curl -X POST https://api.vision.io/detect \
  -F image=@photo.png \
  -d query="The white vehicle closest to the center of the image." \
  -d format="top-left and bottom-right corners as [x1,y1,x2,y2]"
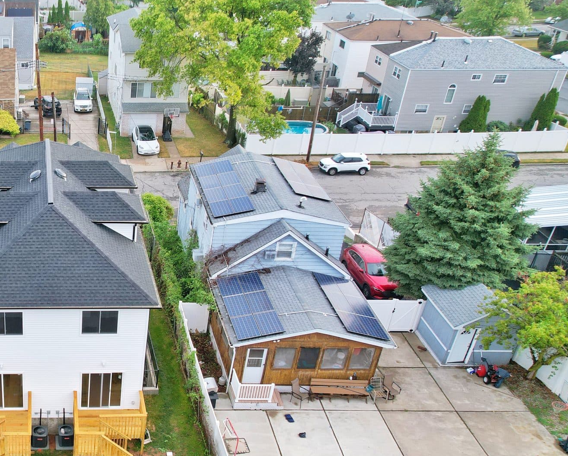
[315,152,380,179]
